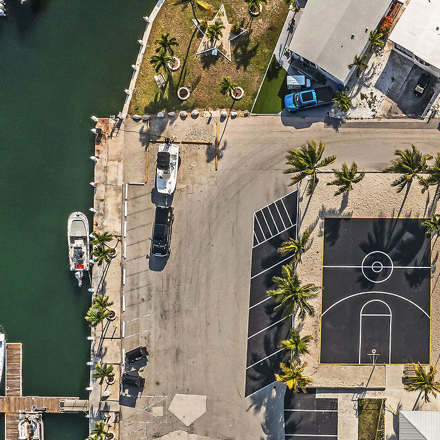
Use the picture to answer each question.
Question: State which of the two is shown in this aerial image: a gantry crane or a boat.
boat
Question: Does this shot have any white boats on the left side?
Yes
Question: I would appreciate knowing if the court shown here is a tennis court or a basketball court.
basketball court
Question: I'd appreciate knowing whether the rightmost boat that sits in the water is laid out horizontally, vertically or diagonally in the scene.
vertically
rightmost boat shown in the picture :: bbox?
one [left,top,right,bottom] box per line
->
[154,133,179,194]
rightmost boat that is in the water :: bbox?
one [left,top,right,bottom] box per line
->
[67,211,90,284]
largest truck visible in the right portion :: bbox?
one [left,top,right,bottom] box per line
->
[282,87,335,114]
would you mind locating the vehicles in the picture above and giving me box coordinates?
[413,74,430,100]
[282,87,335,114]
[121,374,148,389]
[123,348,150,365]
[288,74,310,93]
[150,204,176,259]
